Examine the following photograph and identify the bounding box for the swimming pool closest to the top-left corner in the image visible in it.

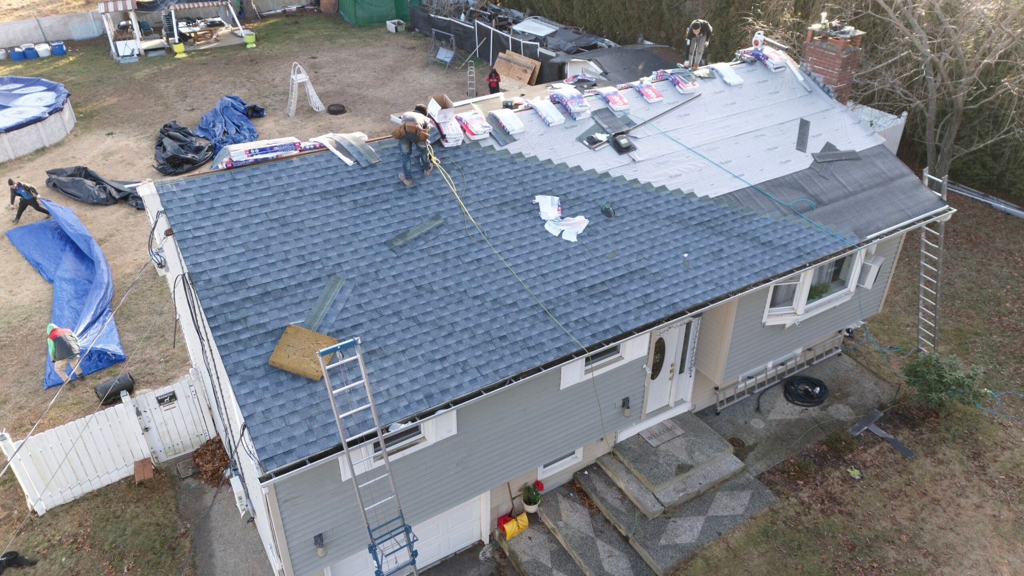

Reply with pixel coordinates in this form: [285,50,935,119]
[0,73,79,165]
